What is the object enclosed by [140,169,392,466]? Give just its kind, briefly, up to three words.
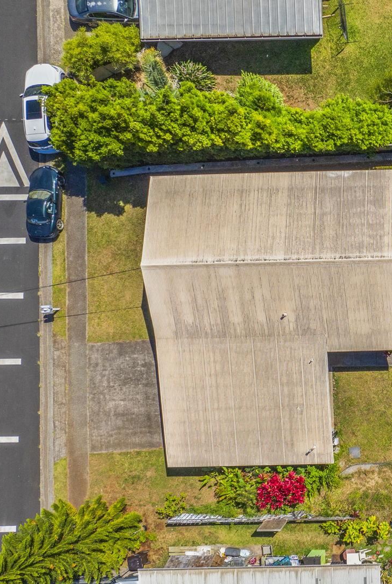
house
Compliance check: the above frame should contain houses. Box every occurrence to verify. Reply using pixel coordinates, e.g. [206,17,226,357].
[140,169,392,466]
[137,563,382,584]
[140,0,324,42]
